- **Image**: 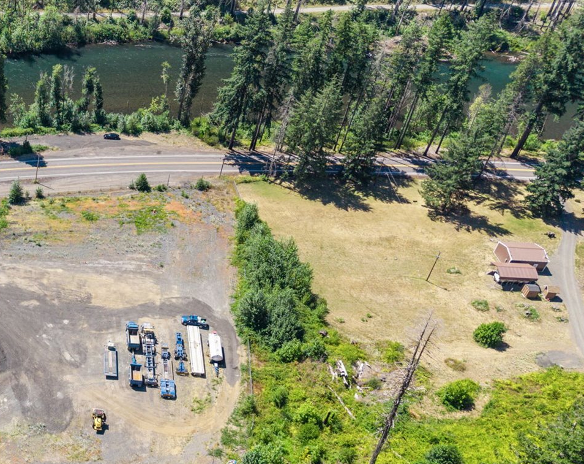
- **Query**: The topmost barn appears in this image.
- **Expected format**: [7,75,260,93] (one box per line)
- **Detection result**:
[490,241,555,273]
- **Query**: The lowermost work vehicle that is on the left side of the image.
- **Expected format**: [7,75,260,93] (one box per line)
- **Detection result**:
[91,409,106,432]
